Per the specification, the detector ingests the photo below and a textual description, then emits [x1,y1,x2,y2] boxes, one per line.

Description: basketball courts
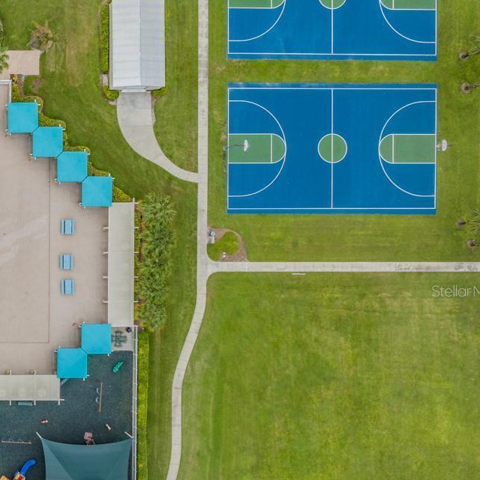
[227,83,437,214]
[227,0,437,60]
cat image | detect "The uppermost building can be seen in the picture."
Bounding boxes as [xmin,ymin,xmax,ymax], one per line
[110,0,169,94]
